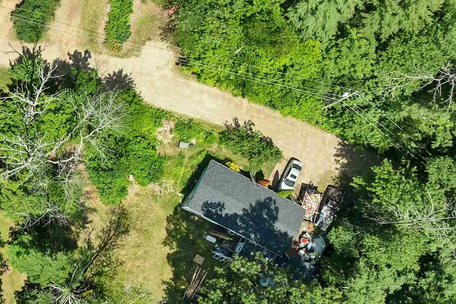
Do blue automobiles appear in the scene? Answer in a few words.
No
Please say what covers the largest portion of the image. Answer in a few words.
trees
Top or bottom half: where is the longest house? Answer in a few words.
bottom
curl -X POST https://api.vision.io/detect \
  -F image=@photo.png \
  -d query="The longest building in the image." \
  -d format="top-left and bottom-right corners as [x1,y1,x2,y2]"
[183,159,307,256]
